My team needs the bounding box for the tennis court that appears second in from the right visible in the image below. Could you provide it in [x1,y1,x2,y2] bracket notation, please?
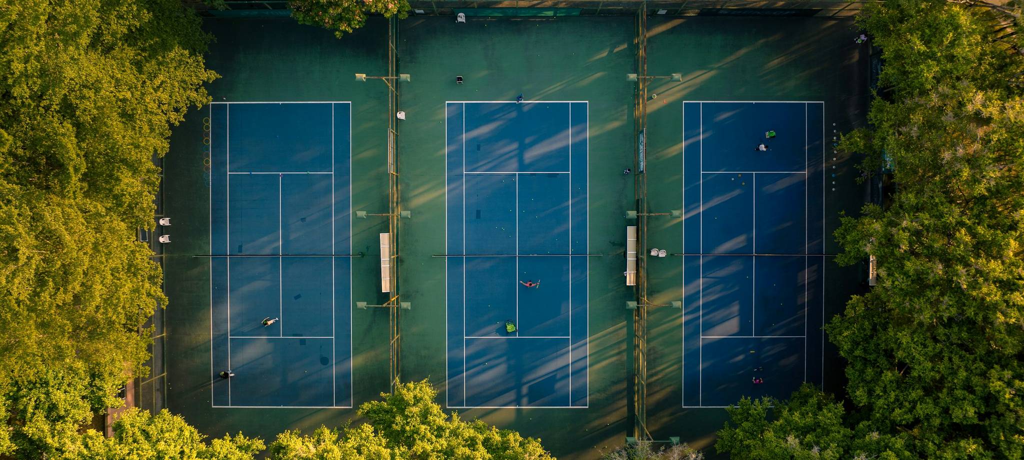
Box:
[399,18,636,460]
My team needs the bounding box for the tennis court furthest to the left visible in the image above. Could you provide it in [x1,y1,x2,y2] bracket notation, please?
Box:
[164,18,398,460]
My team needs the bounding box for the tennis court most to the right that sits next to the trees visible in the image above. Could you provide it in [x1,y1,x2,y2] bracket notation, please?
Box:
[637,18,869,460]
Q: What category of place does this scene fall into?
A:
sports ground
